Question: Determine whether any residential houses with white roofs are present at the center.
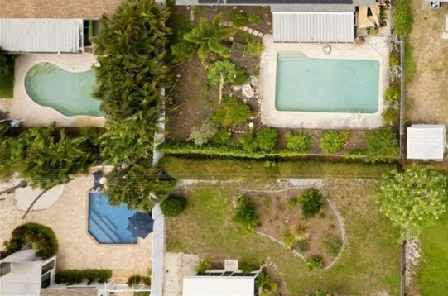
No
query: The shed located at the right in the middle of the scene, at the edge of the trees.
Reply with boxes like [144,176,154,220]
[406,124,445,160]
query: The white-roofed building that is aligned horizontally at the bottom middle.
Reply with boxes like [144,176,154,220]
[183,259,269,296]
